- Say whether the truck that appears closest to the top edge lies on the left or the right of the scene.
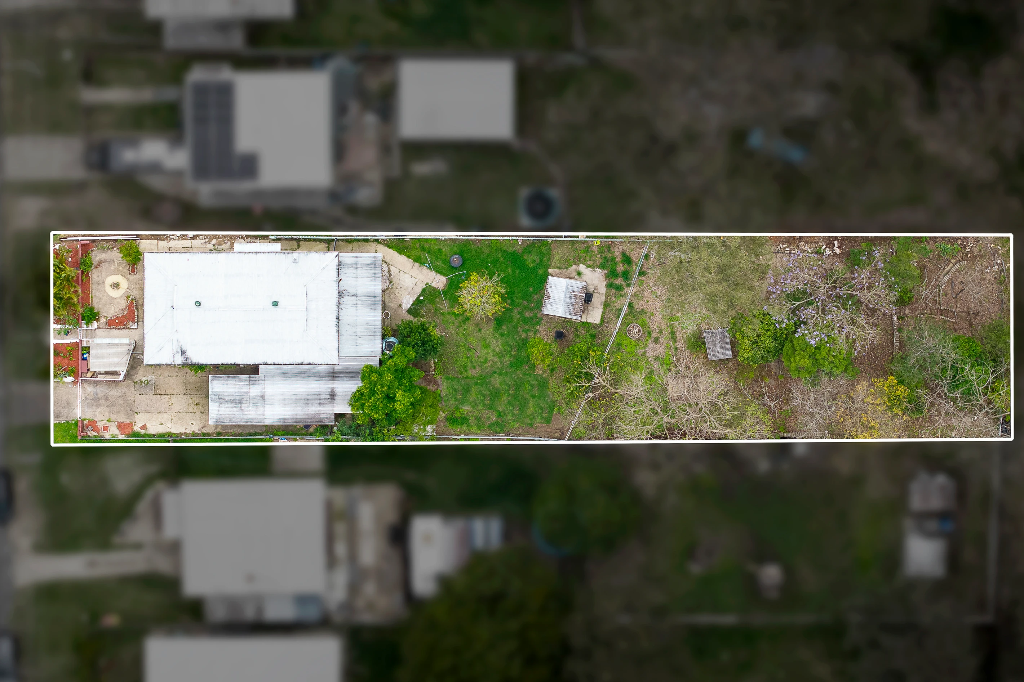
left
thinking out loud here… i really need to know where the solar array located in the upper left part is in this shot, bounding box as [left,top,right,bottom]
[192,81,257,181]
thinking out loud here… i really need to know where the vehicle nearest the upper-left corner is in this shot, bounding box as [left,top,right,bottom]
[81,136,163,170]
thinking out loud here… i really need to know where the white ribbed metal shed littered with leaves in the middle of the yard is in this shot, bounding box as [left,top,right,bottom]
[542,276,587,320]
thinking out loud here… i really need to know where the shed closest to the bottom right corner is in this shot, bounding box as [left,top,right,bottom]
[898,532,946,579]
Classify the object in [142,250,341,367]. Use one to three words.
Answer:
house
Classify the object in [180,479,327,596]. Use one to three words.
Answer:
house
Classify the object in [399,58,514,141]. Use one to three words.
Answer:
building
